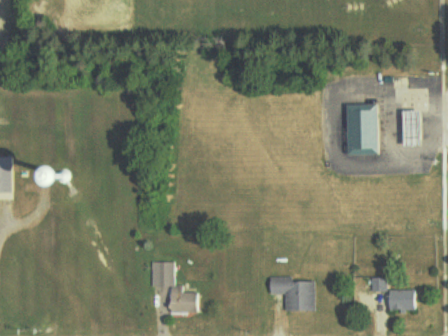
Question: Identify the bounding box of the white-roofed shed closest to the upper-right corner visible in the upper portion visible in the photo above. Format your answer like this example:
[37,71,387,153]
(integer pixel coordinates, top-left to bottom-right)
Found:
[402,112,422,147]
